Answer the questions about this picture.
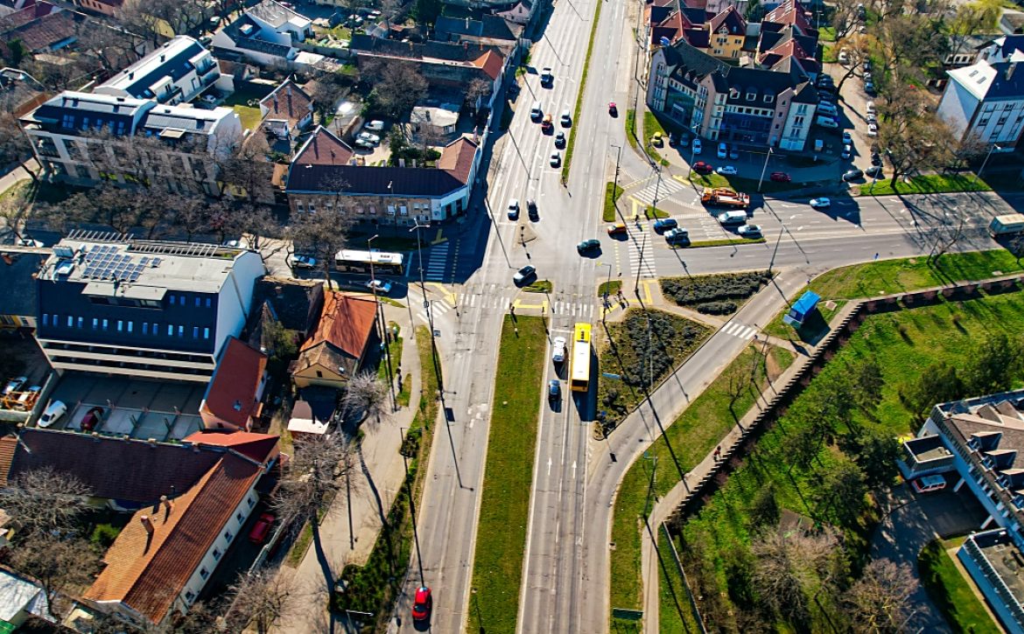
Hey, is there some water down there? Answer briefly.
No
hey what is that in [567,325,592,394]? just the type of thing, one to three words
bus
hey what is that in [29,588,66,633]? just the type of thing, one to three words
building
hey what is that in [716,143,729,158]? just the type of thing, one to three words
vehicle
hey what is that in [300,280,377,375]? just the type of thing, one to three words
house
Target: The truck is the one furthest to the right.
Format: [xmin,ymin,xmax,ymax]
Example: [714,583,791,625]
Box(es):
[993,215,1024,239]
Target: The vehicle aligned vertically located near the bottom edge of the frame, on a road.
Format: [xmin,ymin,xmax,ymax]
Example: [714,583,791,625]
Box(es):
[412,587,432,624]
